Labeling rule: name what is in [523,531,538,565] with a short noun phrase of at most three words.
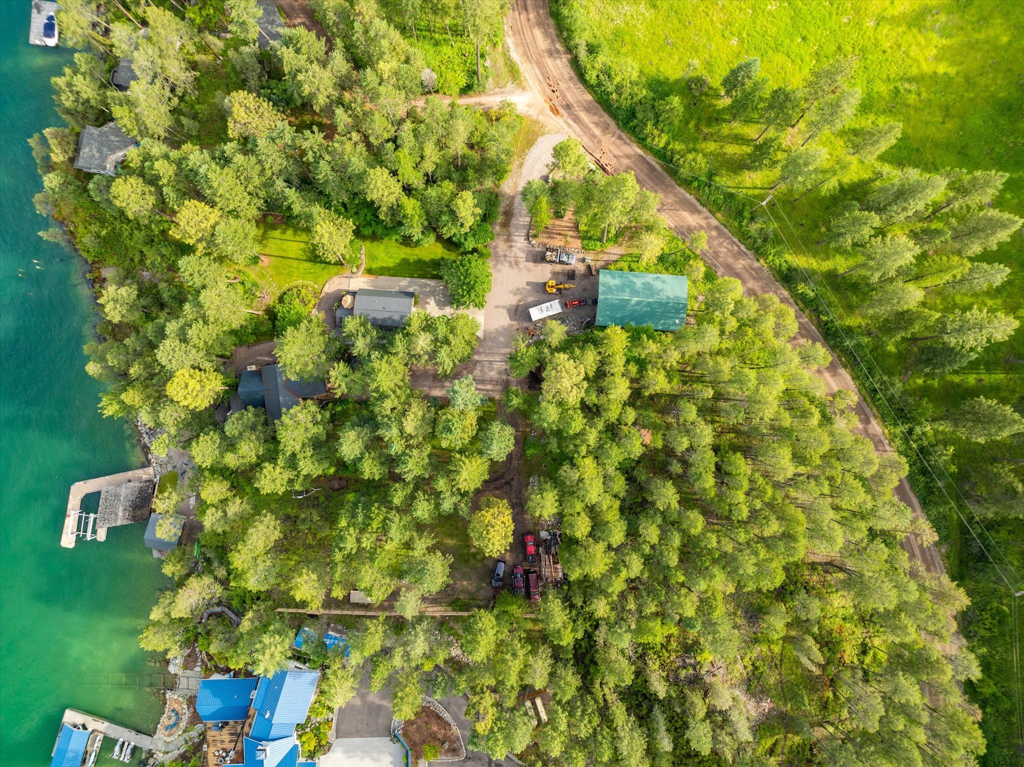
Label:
vehicle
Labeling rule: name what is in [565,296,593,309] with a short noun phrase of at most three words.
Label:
vehicle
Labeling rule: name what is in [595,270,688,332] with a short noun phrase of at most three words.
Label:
barn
